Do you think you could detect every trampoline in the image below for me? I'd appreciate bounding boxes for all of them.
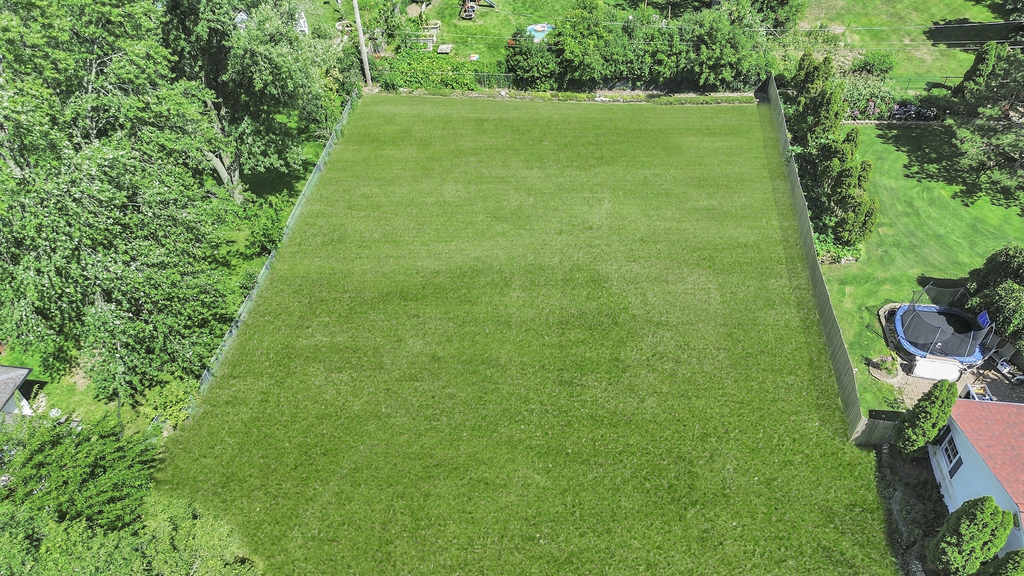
[892,279,1003,371]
